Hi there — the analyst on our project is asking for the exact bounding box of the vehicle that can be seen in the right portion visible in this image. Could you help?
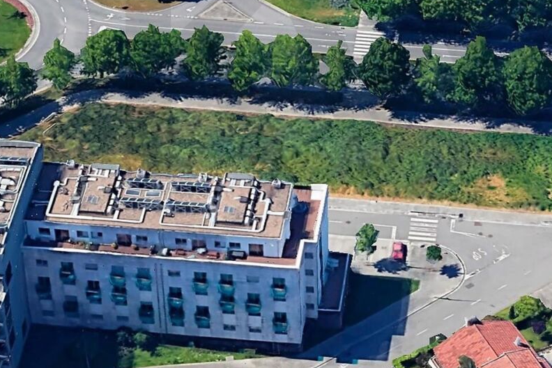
[393,241,406,263]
